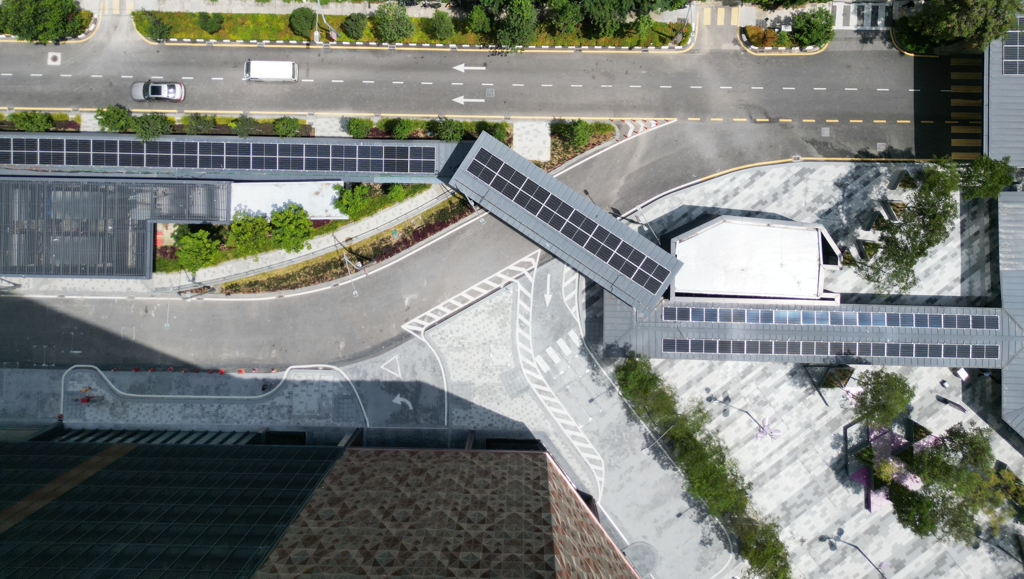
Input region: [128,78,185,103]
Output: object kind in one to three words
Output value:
car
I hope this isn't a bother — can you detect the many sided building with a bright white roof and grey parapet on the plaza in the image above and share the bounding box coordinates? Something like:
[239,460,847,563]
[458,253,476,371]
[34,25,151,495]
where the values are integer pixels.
[660,213,843,307]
